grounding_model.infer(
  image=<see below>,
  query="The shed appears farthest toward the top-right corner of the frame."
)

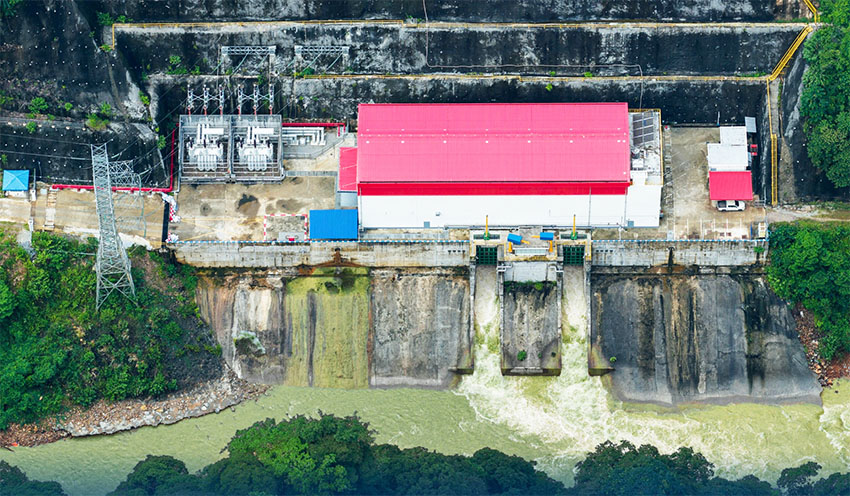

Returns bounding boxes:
[706,125,750,171]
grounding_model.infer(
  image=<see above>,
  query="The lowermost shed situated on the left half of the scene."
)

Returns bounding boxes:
[310,209,357,241]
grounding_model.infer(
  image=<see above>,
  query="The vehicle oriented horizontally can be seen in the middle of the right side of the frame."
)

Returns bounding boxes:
[716,201,745,213]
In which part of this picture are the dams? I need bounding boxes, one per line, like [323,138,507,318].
[173,229,822,406]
